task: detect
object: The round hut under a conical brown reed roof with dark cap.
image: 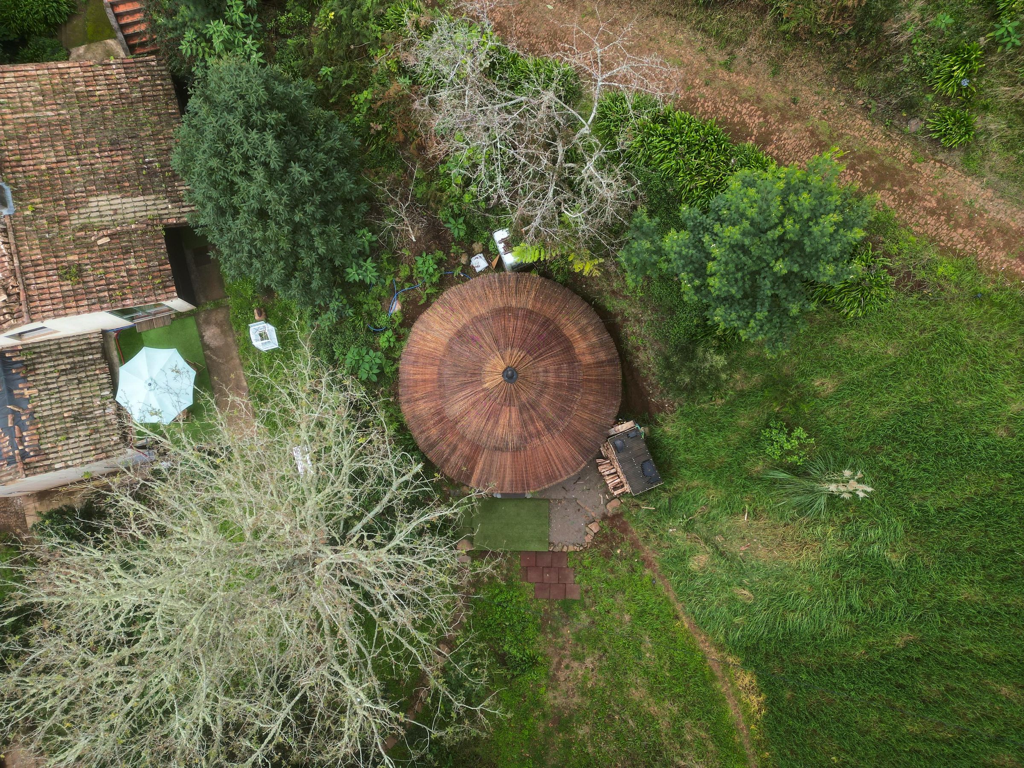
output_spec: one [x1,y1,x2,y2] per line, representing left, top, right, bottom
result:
[396,274,624,497]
